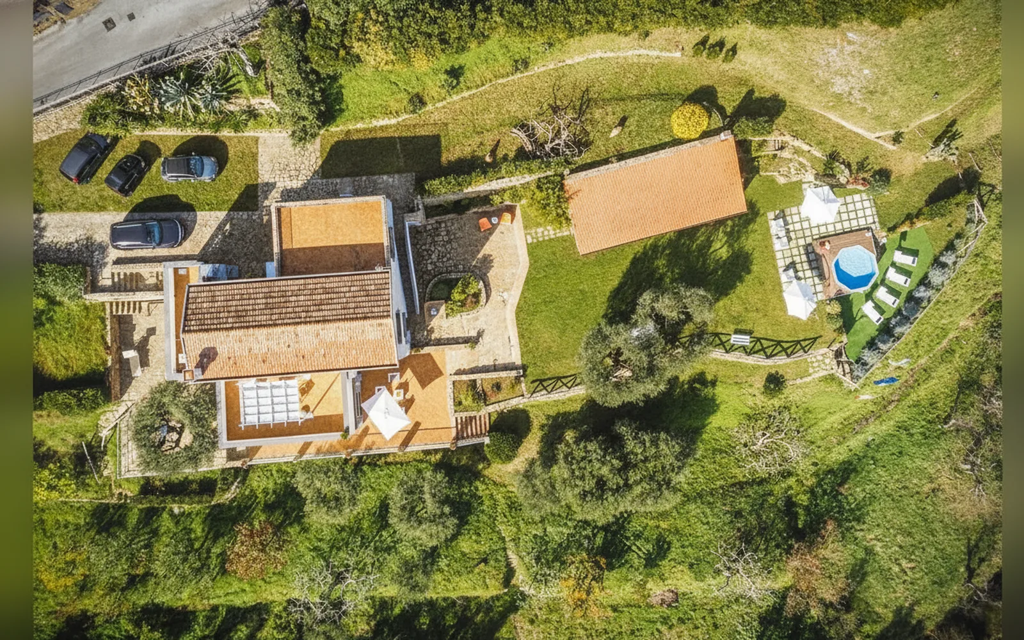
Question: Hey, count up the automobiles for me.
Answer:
4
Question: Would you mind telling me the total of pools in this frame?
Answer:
one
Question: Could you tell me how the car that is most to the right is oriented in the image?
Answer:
horizontally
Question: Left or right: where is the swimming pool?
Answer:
right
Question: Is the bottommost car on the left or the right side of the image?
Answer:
left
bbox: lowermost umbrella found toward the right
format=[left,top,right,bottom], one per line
[777,279,814,318]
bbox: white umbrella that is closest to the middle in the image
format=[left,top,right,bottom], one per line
[366,390,411,436]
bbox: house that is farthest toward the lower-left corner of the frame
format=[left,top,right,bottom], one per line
[163,192,411,448]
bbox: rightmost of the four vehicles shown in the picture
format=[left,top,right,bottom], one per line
[160,152,223,184]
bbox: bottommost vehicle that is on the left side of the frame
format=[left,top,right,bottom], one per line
[110,218,187,252]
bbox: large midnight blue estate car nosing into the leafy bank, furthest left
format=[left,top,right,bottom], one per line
[57,129,120,192]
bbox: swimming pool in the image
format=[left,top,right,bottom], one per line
[832,245,880,296]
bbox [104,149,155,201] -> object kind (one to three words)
car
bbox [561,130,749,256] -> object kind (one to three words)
shed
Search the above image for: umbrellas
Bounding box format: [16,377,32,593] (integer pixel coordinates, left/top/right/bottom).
[366,390,411,436]
[796,186,837,223]
[777,279,814,318]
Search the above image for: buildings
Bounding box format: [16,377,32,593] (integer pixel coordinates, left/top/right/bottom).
[163,192,411,448]
[561,130,749,256]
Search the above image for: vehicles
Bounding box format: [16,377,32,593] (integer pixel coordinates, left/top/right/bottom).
[104,149,155,201]
[57,129,120,192]
[160,152,223,184]
[110,218,187,252]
